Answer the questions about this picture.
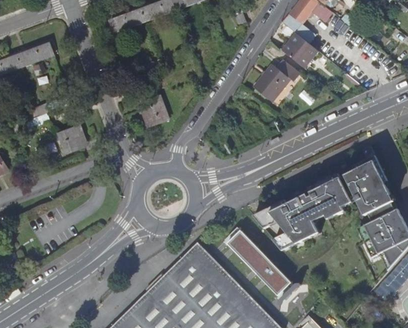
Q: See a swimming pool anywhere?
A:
No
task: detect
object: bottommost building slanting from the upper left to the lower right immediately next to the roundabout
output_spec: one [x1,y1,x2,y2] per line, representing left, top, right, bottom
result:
[224,228,293,298]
